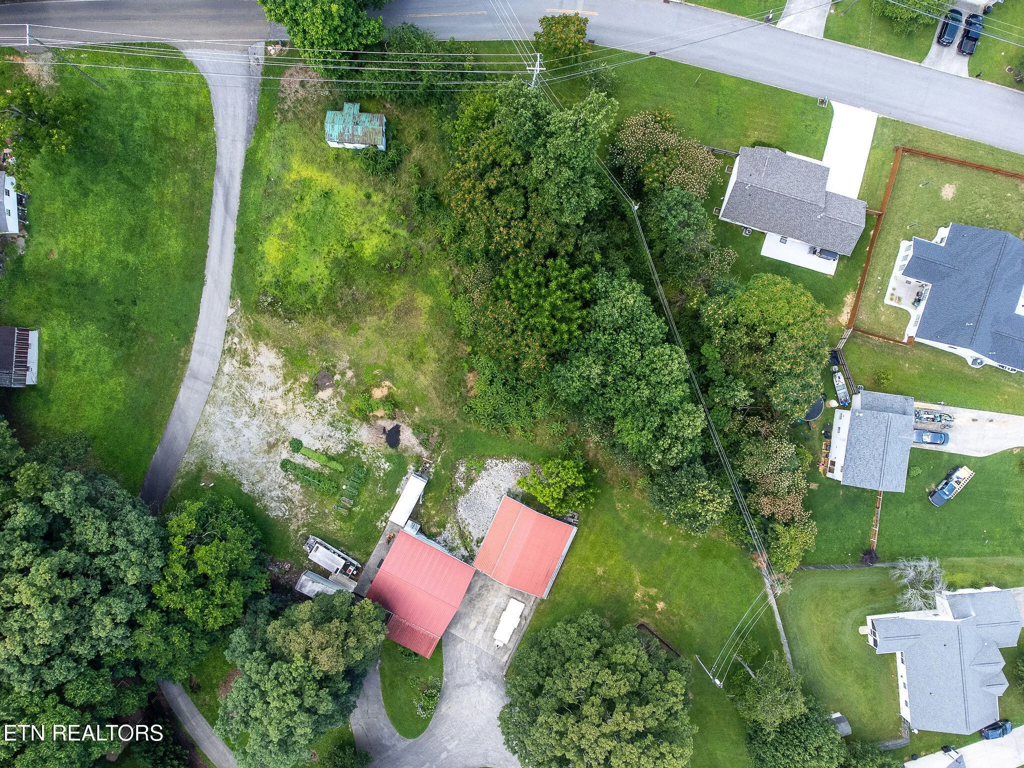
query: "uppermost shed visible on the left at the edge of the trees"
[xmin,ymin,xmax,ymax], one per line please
[324,102,386,149]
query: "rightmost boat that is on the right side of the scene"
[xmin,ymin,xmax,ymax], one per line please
[914,409,954,423]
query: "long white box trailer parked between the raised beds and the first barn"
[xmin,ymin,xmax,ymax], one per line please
[387,469,430,530]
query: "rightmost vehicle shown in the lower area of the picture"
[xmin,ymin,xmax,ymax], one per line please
[978,718,1013,740]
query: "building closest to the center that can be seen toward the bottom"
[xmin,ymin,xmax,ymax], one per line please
[473,494,579,599]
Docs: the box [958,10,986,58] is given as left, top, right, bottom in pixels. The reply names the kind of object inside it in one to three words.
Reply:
truck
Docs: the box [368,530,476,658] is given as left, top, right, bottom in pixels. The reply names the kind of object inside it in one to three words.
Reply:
barn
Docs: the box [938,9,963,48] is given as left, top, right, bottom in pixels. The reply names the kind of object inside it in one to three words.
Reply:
car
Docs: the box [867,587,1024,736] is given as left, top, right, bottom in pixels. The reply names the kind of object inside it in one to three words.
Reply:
house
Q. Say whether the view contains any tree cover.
Yes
